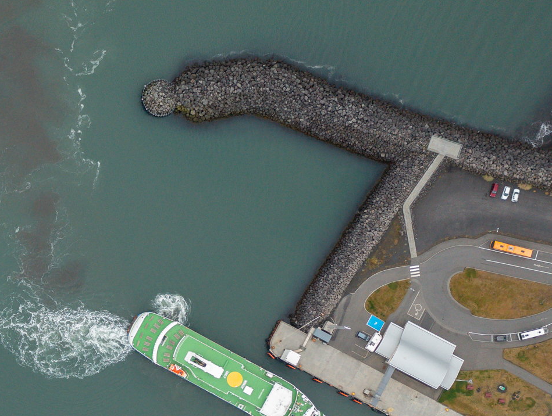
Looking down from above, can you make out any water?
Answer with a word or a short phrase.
Yes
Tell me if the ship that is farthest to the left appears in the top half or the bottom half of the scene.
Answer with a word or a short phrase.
bottom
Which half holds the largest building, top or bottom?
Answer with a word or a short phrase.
bottom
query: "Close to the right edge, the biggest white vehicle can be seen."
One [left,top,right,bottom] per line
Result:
[517,327,550,341]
